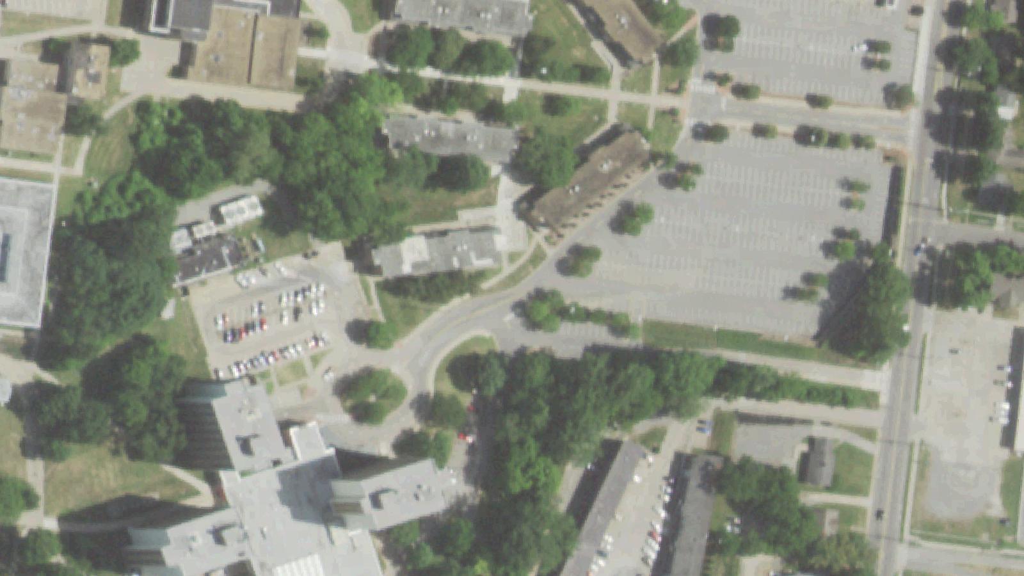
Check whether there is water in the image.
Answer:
No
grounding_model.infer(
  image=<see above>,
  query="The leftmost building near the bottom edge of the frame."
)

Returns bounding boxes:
[126,380,444,576]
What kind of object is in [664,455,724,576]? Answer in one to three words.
building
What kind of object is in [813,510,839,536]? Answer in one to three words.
house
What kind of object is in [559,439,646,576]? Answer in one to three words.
building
